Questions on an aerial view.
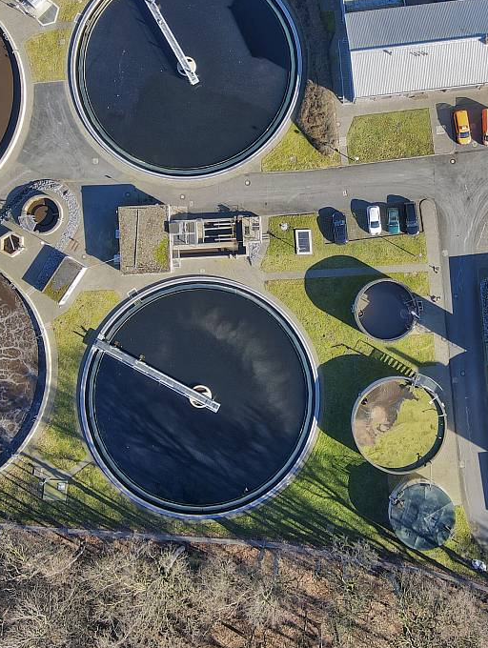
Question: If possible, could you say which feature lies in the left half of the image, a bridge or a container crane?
bridge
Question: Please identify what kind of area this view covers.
industrial area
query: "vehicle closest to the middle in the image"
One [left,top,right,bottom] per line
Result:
[330,210,347,243]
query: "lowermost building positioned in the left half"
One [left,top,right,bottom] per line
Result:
[42,256,89,305]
